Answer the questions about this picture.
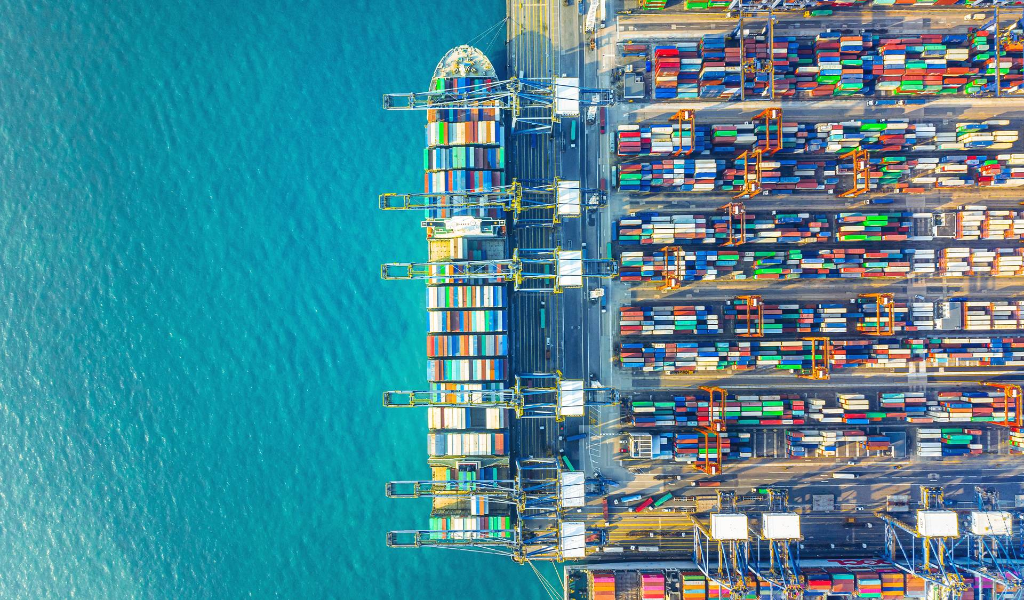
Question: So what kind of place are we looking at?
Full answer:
This image shows a port.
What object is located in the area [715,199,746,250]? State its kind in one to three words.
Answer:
crane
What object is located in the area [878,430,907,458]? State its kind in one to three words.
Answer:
building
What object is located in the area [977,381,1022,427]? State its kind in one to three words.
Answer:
crane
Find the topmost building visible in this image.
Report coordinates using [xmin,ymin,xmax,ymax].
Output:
[622,73,645,102]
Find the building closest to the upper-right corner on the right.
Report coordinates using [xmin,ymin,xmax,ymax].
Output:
[923,211,957,240]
